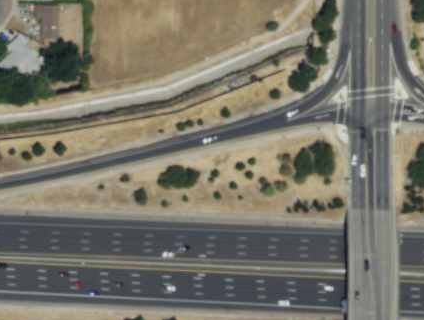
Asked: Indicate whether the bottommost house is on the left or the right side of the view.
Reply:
left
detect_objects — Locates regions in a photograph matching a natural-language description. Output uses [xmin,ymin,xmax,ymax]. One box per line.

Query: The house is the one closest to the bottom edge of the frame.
[0,34,46,72]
